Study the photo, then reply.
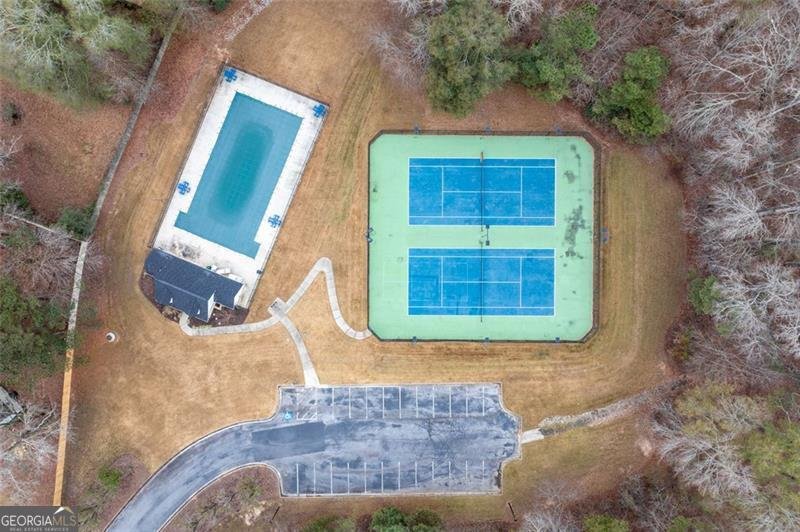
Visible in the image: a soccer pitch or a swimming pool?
swimming pool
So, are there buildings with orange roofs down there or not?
No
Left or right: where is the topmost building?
left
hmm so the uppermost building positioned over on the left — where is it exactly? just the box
[145,249,245,322]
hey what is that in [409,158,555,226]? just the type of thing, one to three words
tennis court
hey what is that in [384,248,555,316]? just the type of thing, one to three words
tennis court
